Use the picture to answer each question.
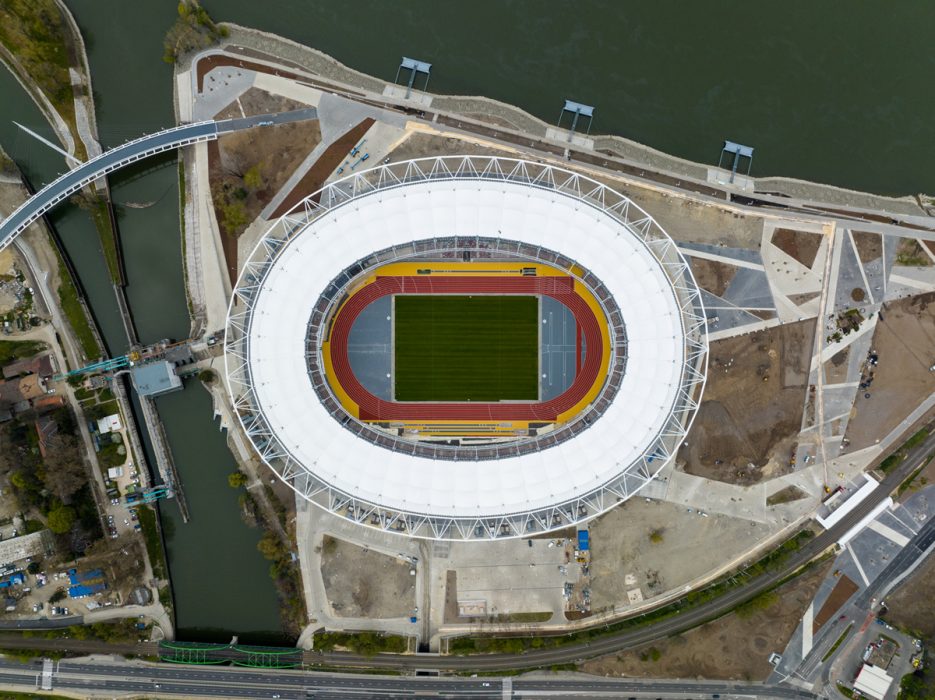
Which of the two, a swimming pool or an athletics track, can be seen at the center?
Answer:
athletics track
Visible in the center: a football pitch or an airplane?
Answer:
football pitch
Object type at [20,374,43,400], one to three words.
house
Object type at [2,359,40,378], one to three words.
house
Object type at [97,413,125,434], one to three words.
building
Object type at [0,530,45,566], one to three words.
shed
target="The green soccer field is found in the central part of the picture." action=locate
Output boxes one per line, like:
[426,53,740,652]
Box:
[392,294,542,404]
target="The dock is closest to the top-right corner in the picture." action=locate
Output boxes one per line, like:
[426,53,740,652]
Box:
[719,141,754,179]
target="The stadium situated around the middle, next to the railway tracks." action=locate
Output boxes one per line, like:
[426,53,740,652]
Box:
[225,155,709,540]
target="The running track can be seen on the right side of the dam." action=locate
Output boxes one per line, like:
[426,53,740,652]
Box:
[320,256,614,445]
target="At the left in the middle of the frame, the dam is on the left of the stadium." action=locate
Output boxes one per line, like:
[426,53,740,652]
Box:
[164,347,196,367]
